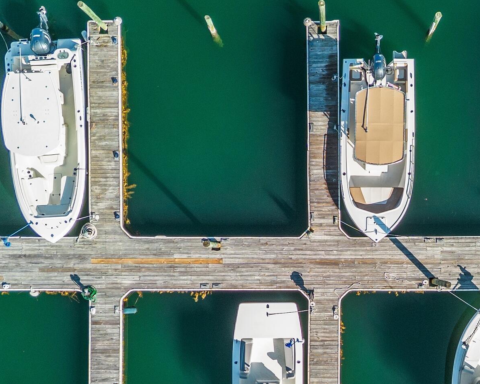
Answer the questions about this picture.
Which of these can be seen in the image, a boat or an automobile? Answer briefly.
boat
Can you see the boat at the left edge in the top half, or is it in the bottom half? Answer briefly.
top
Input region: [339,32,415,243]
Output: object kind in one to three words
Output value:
boat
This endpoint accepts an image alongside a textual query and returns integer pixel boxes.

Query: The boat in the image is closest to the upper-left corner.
[2,3,88,244]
